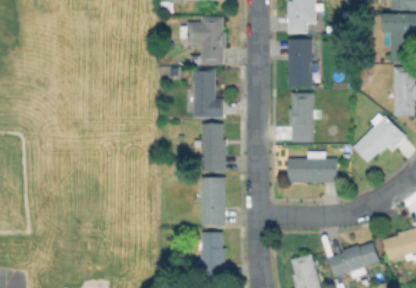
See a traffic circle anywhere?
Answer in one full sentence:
No, there isn't any traffic circle down there.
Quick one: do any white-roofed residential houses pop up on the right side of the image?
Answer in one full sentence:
Yes, a white-roofed residential house can be seen on the right side of the image.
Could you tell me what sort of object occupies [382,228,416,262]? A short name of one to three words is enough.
house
